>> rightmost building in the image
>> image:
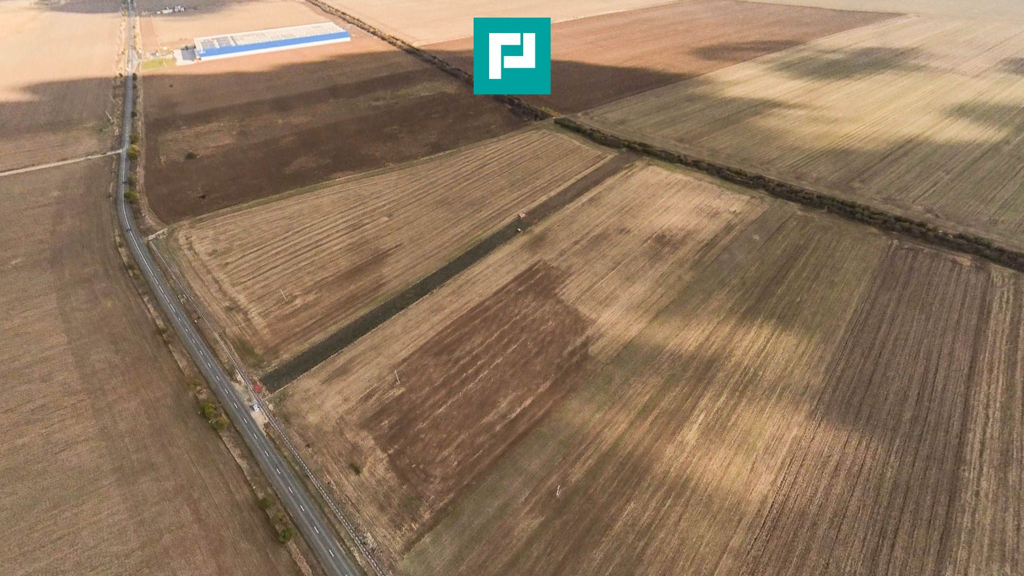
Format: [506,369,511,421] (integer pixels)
[193,22,350,60]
